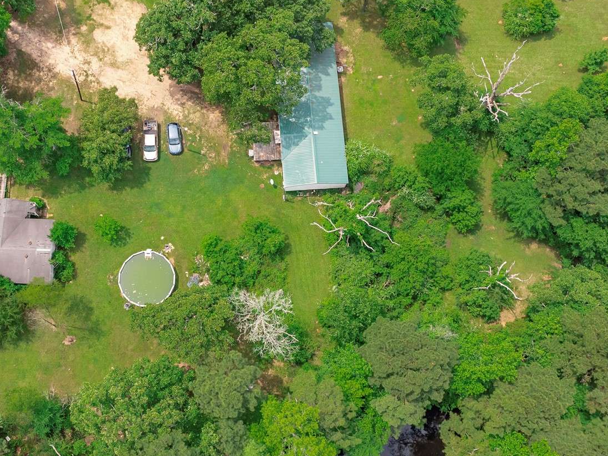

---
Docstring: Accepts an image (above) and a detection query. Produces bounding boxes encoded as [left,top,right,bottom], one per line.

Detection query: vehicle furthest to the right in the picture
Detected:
[167,122,182,157]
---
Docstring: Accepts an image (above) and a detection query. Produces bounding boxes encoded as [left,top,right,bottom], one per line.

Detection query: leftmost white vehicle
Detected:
[141,119,159,162]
